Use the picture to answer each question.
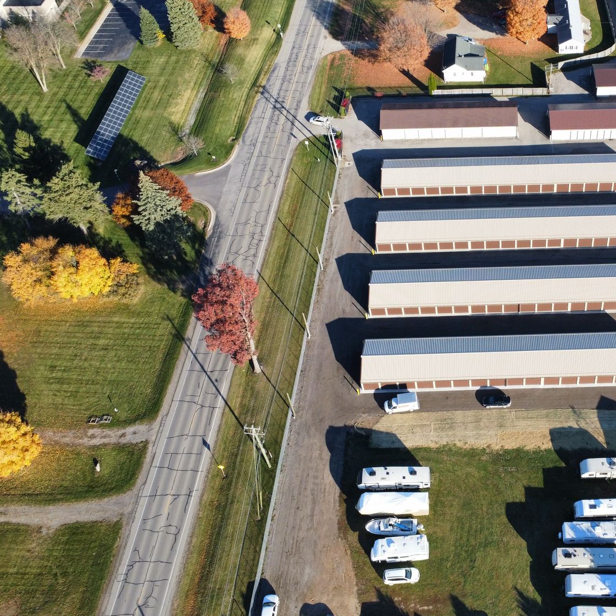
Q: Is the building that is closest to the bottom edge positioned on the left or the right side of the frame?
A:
right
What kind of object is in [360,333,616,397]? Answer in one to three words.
building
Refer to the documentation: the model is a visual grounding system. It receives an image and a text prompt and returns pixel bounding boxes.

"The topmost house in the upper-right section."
[541,0,584,54]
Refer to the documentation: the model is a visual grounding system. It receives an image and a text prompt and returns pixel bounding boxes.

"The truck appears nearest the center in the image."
[384,392,422,418]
